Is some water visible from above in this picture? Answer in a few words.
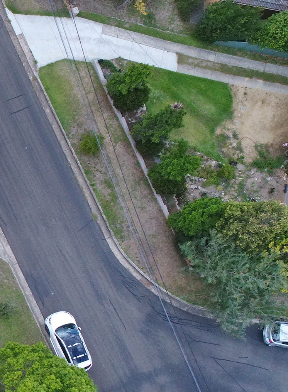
No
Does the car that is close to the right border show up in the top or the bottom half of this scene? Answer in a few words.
bottom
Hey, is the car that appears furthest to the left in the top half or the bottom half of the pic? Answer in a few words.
bottom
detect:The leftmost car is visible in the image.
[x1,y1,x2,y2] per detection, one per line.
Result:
[47,308,100,375]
